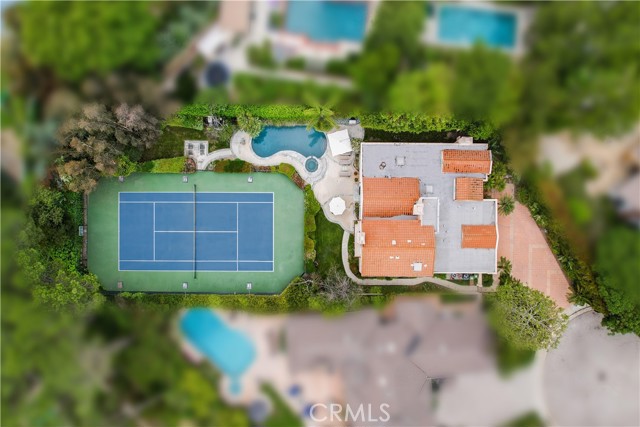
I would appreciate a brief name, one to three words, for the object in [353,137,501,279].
house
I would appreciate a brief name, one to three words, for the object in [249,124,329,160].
swimming pool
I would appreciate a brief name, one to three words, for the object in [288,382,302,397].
umbrella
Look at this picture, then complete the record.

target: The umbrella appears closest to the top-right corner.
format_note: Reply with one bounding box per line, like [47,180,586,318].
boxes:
[328,126,352,157]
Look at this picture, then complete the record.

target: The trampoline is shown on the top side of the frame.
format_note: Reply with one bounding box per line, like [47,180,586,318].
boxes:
[201,59,226,85]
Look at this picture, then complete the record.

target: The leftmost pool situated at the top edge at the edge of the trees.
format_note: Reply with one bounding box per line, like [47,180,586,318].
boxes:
[284,0,370,43]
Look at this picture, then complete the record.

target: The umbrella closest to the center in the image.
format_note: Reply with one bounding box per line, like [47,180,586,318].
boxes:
[329,198,346,214]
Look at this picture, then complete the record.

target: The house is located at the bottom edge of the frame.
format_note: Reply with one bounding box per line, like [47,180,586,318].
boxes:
[286,298,488,427]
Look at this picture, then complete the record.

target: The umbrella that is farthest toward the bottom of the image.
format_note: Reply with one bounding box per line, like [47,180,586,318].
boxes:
[302,400,316,416]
